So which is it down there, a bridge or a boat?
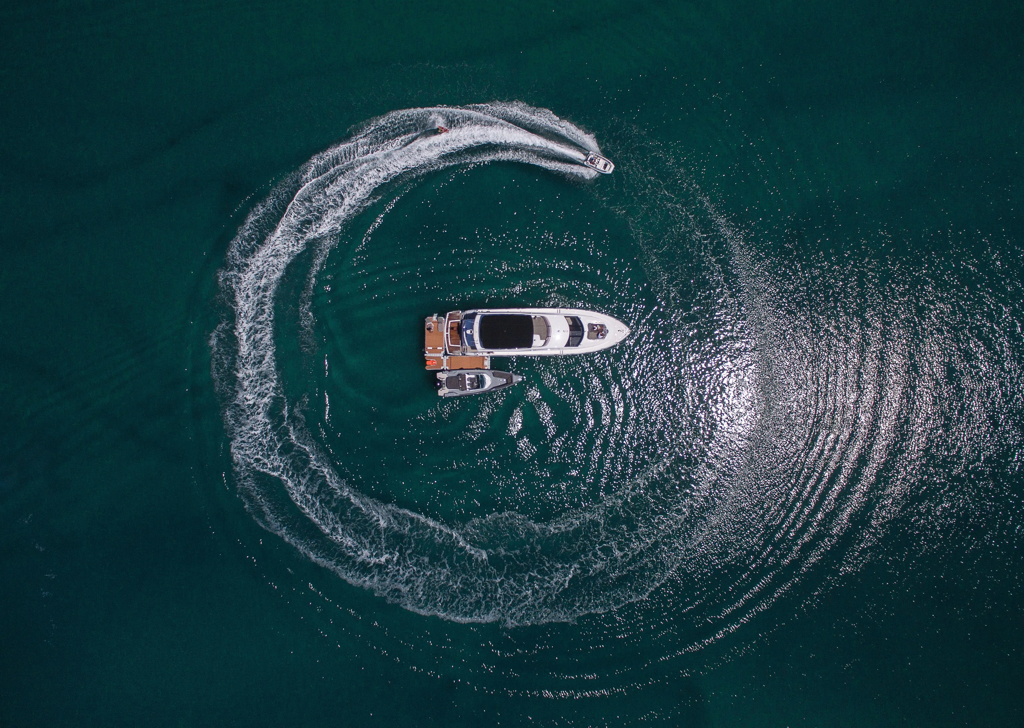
boat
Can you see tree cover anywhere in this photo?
No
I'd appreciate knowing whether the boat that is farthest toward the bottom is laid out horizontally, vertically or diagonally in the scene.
horizontally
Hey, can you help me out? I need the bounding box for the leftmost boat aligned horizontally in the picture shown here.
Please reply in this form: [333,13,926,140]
[435,369,522,397]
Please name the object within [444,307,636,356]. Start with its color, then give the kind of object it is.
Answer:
white boat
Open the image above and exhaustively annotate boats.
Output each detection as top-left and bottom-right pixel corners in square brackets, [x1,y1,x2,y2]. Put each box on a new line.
[444,307,636,356]
[435,369,522,397]
[584,151,615,174]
